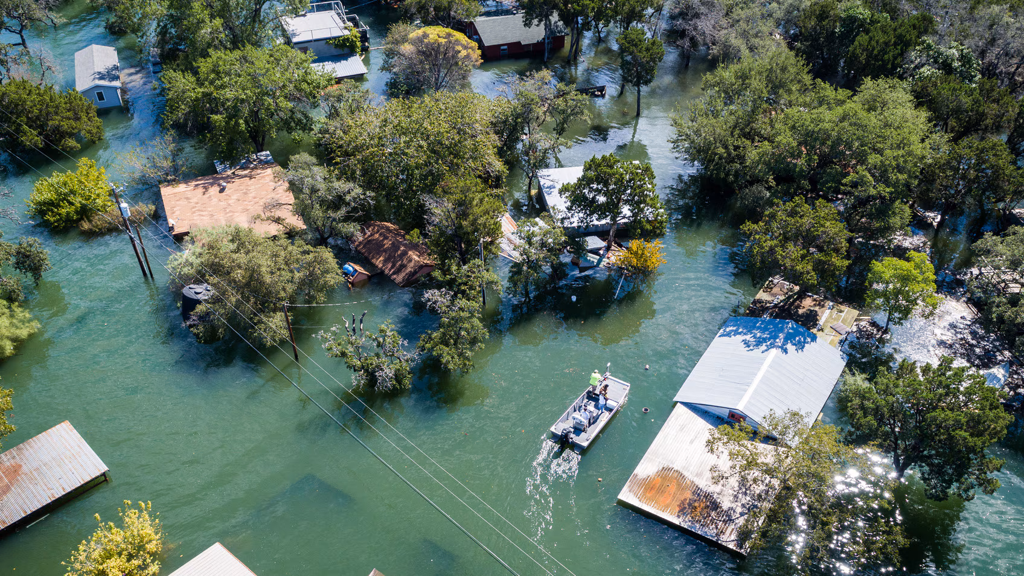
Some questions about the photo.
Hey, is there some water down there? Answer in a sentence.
Yes, some water is visible.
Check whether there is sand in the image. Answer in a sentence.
No, there is no sand in the image.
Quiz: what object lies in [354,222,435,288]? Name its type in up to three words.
house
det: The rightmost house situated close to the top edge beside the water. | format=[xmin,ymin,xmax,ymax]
[469,9,568,62]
